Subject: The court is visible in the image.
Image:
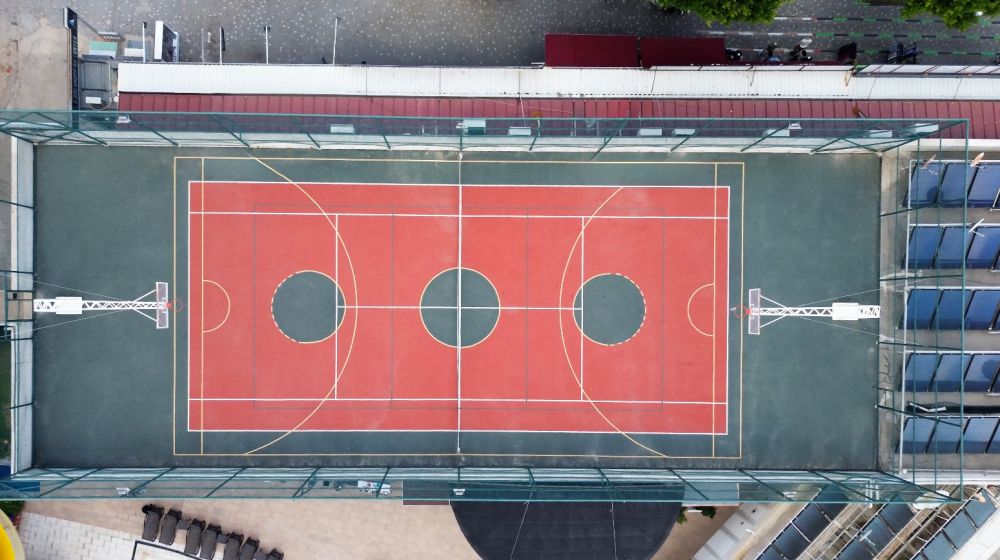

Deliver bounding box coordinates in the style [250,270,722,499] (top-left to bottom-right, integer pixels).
[32,146,882,470]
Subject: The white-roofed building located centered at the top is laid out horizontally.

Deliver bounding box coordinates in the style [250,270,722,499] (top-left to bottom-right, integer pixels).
[32,32,1000,153]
